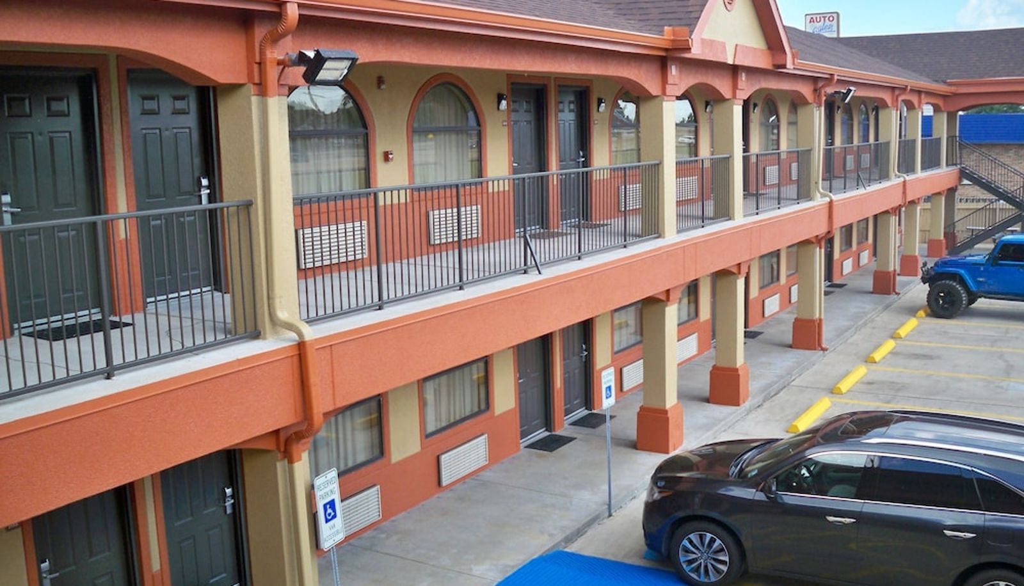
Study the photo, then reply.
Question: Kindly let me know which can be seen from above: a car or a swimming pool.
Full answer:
The image shows a car.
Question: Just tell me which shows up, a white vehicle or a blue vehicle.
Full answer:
Looking from above, you can make out a blue vehicle.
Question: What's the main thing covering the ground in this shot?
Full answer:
The bulk of the photo consists of buildings.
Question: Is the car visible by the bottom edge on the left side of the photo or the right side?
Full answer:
It is on the right.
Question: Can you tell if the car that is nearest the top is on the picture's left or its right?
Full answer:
The car that is nearest the top appears in the right half of the scene.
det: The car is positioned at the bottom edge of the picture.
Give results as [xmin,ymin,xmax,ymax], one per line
[638,406,1024,586]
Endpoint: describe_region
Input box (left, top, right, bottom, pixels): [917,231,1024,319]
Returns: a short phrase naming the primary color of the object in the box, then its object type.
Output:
blue car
